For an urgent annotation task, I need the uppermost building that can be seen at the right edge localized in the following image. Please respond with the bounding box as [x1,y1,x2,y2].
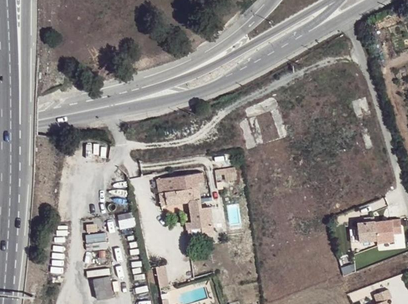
[351,219,406,255]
